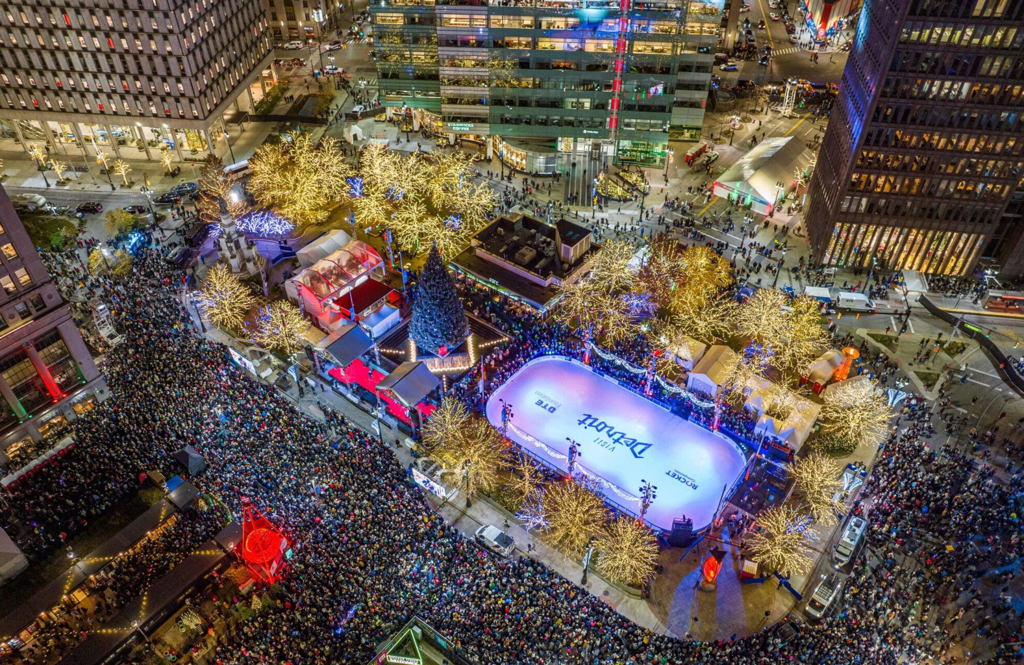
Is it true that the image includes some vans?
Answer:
Yes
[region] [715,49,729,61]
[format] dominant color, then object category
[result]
red vehicle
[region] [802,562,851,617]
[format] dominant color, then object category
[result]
gray van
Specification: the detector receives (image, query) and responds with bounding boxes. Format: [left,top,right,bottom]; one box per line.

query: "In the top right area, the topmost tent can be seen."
[711,134,816,227]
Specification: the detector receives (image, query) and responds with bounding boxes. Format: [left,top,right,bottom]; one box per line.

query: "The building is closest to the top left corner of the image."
[0,0,284,171]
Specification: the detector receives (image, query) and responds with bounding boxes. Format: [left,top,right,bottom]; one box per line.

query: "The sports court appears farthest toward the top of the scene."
[484,350,750,531]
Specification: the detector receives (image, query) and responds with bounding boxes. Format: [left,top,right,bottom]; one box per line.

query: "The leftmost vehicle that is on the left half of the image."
[4,191,42,208]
